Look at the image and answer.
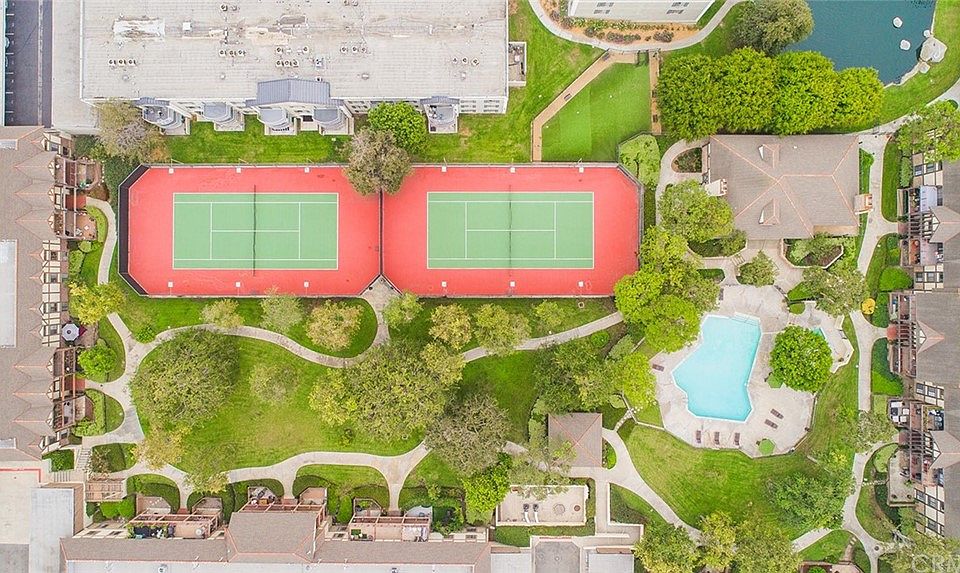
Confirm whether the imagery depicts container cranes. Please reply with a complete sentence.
No, I find no container crane anywhere in the image.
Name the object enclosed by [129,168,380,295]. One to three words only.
tennis court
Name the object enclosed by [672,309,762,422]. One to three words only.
swimming pool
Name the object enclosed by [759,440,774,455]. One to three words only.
umbrella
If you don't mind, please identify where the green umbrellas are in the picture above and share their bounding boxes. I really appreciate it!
[766,374,779,388]
[759,440,774,455]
